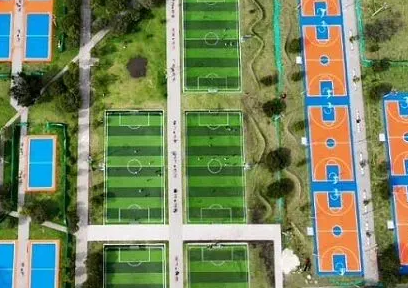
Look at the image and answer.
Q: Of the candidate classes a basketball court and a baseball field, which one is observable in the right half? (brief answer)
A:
basketball court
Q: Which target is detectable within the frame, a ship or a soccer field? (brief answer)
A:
soccer field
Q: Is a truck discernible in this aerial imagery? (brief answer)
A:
No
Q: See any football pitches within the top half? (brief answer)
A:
Yes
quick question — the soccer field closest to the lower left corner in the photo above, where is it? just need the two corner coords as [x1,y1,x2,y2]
[105,244,165,288]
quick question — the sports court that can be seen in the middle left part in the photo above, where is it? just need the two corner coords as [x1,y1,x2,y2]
[23,135,59,191]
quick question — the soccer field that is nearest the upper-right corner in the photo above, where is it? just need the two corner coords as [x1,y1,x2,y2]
[183,0,241,92]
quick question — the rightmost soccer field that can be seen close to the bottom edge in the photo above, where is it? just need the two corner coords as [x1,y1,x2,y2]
[188,243,250,288]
